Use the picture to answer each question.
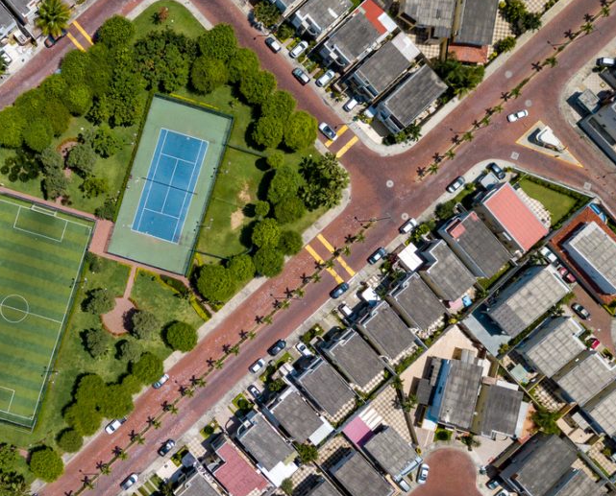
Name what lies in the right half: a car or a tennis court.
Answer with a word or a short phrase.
car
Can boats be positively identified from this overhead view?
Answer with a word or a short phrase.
No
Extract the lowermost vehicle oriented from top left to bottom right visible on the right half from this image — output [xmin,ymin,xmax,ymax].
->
[394,476,414,496]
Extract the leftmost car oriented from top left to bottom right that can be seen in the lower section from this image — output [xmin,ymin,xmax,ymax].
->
[247,384,263,402]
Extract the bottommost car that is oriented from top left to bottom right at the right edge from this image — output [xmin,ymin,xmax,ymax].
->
[570,302,590,321]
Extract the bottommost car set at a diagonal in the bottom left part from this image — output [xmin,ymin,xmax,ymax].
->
[120,473,139,490]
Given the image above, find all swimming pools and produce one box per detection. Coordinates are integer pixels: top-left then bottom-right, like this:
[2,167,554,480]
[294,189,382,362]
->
[590,202,607,220]
[462,293,475,308]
